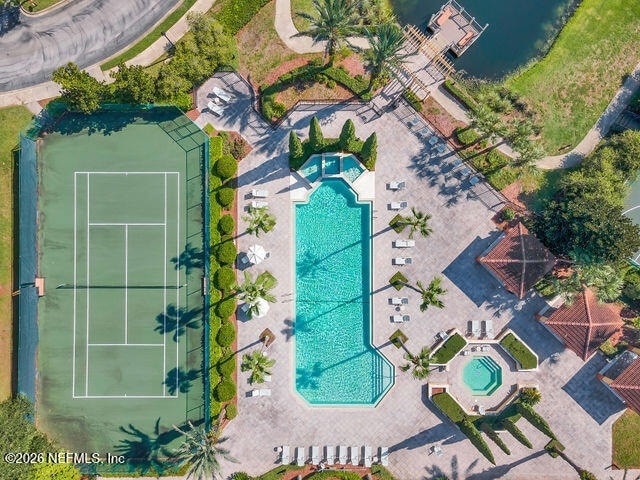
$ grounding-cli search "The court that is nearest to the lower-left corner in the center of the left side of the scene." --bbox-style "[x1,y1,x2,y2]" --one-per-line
[36,112,209,458]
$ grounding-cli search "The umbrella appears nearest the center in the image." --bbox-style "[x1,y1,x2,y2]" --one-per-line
[246,244,266,264]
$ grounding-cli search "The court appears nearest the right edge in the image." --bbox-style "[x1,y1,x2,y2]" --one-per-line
[614,161,640,271]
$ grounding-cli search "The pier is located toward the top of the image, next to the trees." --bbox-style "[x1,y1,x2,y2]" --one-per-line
[420,0,488,69]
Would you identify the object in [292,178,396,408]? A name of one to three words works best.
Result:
swimming pool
